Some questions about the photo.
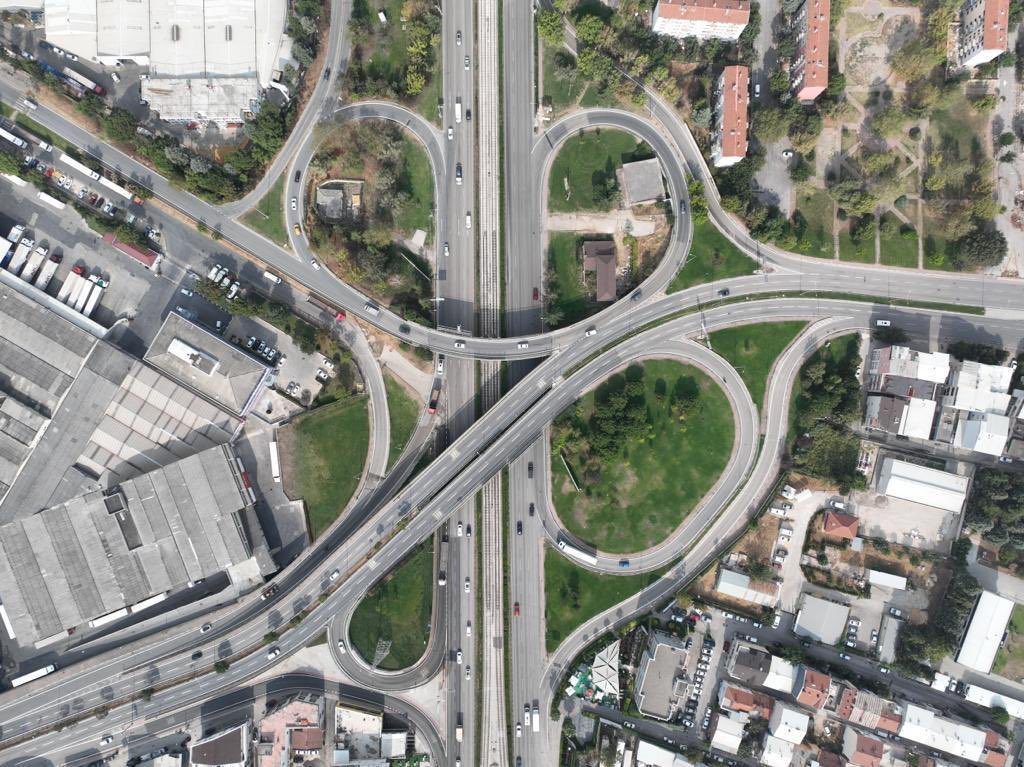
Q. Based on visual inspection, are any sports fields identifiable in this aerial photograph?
No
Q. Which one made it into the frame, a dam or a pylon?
pylon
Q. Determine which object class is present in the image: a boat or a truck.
truck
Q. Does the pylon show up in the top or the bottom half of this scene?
bottom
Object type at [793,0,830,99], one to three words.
building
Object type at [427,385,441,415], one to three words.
vehicle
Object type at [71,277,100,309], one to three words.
truck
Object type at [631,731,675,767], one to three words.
house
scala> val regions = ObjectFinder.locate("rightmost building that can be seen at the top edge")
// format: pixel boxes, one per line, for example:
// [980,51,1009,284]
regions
[963,0,1009,64]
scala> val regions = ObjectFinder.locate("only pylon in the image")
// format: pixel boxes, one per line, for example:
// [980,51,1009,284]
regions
[368,634,392,668]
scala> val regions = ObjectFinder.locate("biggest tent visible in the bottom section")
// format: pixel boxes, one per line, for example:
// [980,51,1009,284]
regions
[590,637,620,693]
